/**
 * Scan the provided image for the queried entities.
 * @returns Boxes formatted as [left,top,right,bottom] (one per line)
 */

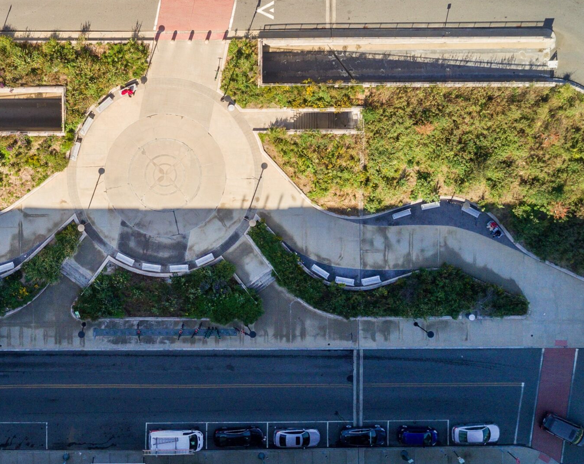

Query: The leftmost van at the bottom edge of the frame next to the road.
[147,428,202,460]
